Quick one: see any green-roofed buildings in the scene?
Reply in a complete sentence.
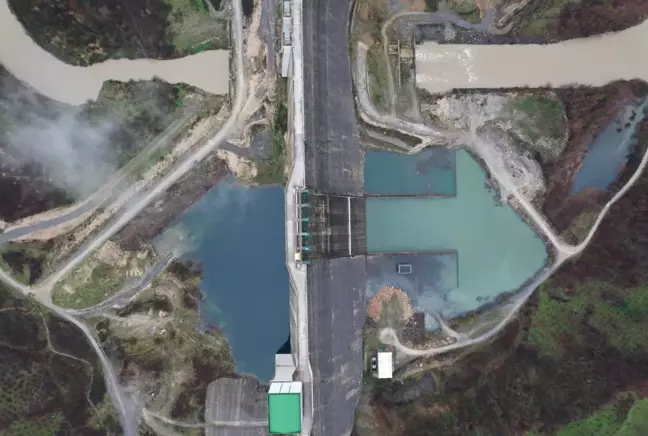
Yes, you can see a green-roofed building in this photo.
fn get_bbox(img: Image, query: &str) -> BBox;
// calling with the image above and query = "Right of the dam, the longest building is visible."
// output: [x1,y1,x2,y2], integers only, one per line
[378,351,392,378]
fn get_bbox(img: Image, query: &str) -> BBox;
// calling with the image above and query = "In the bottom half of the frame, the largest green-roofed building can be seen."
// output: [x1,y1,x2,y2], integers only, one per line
[269,382,301,433]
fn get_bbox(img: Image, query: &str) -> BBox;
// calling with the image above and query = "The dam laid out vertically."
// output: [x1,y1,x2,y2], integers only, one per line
[285,0,368,436]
